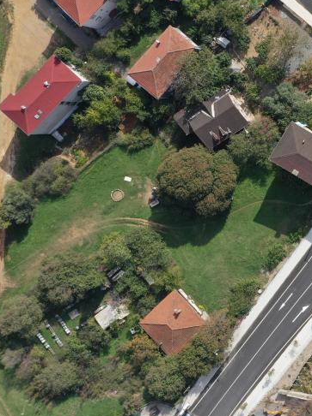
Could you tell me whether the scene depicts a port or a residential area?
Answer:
residential area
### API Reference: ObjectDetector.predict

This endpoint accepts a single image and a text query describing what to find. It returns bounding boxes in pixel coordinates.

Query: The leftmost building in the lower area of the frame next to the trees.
[93,303,136,329]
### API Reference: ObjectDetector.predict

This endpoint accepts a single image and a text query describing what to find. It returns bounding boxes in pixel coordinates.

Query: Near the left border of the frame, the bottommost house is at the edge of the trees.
[0,55,101,134]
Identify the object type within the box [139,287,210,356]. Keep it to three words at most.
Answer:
house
